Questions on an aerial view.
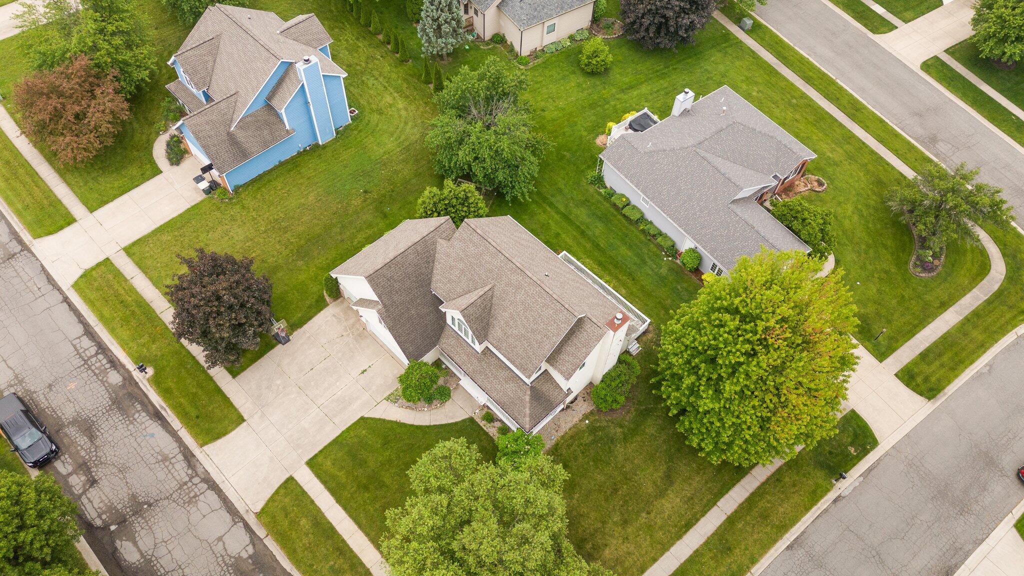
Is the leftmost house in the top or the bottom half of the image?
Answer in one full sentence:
The leftmost house is in the top half of the image.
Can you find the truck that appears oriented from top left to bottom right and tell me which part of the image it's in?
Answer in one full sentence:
The truck that appears oriented from top left to bottom right is in the bottom left part of the image.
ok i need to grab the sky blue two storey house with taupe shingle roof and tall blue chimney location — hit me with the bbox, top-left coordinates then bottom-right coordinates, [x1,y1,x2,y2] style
[164,2,353,192]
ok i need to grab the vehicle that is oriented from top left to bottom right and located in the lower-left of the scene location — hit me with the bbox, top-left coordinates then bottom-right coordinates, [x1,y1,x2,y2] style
[0,391,56,467]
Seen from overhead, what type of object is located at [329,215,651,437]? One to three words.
house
